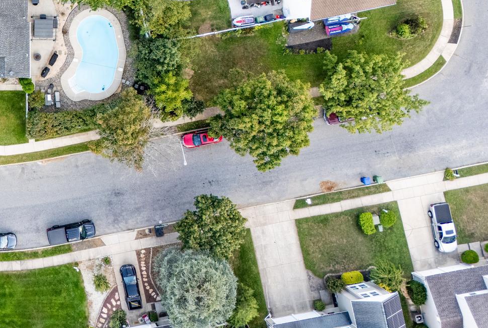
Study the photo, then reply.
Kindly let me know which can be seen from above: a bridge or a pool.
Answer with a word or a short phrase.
pool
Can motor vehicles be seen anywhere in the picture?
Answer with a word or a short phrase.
Yes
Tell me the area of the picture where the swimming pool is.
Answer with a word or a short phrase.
top left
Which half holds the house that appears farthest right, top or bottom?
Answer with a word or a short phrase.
bottom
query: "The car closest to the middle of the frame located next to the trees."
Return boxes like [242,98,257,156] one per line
[180,129,223,149]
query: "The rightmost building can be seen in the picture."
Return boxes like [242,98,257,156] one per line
[413,257,488,328]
